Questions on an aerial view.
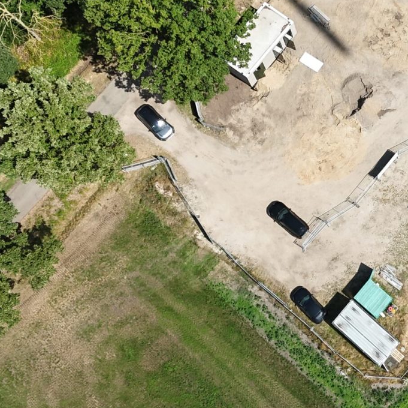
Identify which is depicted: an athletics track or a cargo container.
cargo container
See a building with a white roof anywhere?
Yes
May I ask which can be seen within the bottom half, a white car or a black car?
black car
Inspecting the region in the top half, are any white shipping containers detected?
No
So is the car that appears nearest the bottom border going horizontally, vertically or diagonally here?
diagonally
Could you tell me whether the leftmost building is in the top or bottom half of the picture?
top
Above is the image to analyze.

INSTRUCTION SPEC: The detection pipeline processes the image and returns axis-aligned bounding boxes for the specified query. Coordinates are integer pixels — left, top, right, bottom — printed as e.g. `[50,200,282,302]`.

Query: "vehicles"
[133,103,176,143]
[285,282,329,328]
[263,199,310,242]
